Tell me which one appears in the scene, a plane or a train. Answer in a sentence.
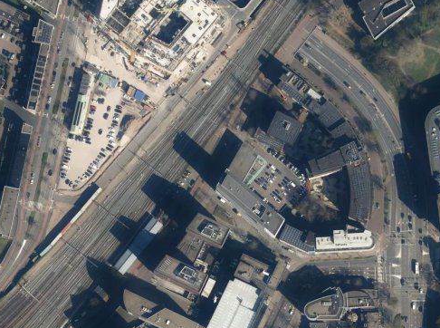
The image shows a train.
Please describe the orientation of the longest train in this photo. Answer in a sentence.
Seen from above, the longest train lies diagonally.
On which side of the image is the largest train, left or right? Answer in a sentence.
The largest train sits on the left side.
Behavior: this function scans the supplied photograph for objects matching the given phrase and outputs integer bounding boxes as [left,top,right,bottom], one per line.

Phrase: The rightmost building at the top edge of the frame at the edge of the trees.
[359,0,415,41]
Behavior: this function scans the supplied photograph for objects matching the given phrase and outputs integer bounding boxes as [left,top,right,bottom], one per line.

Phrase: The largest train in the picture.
[29,188,102,264]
